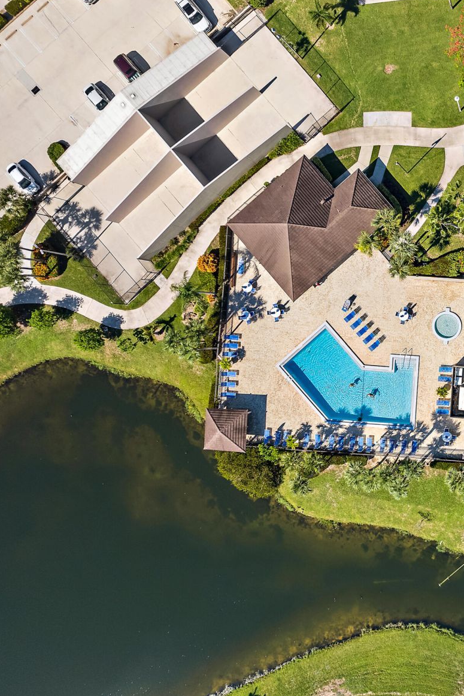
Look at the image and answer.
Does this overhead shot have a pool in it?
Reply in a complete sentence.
Yes, the image includes a pool.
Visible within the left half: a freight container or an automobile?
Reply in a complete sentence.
Looking within the left half, you will find an automobile.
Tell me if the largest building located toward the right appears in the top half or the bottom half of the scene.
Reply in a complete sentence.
It is in the top half that the largest building located toward the right appears.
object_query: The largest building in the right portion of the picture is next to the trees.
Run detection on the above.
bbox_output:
[227,155,400,301]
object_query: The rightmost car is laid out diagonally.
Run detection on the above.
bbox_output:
[173,0,213,34]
